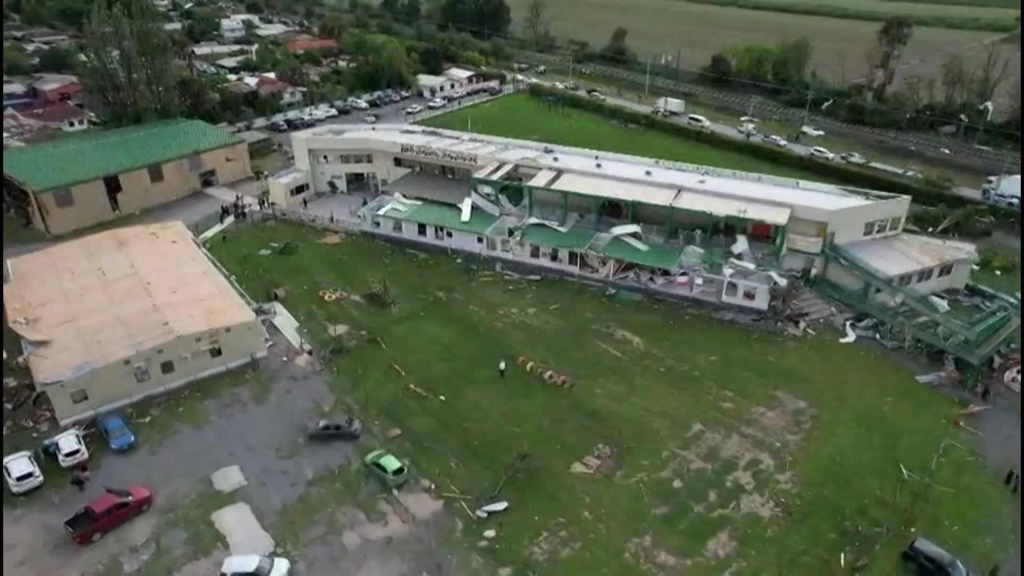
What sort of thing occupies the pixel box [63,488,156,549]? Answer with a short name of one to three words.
truck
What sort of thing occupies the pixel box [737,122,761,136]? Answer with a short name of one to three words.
car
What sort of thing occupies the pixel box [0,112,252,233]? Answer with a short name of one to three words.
building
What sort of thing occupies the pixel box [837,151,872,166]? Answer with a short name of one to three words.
vehicle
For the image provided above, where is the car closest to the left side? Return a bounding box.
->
[0,452,45,498]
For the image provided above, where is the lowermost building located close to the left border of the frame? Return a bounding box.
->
[14,215,270,428]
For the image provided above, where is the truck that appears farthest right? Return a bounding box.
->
[976,176,1024,209]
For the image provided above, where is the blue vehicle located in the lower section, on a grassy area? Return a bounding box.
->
[91,412,137,454]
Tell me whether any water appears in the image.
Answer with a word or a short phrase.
No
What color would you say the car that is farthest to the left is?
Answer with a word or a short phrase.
white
